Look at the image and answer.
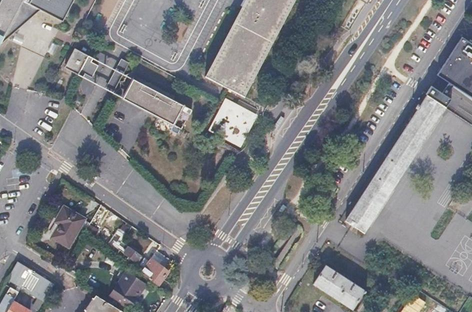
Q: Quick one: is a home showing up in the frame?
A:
Yes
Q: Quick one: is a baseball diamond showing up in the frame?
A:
No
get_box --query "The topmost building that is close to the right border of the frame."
[436,37,472,94]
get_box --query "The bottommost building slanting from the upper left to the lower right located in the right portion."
[313,265,366,310]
